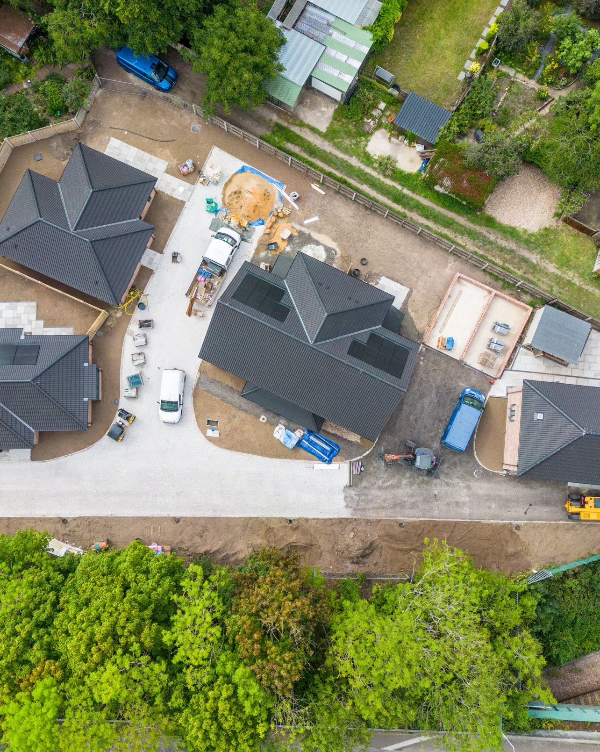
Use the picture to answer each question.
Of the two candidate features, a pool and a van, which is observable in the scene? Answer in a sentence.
The image shows a van.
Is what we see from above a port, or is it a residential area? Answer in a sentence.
This image shows a residential area.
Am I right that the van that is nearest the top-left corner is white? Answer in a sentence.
No, the color of the van that is nearest the top-left corner is blue.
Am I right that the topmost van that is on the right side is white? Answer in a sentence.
No, the topmost van that is on the right side is actually blue.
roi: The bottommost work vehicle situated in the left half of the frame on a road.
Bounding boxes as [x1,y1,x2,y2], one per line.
[106,404,145,447]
